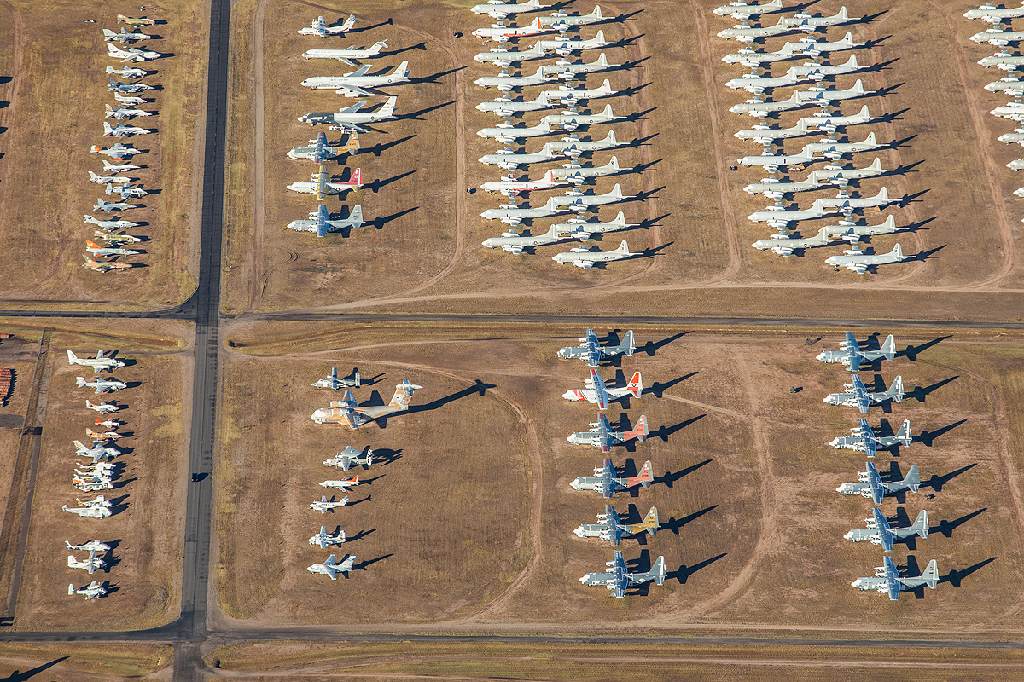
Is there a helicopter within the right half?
No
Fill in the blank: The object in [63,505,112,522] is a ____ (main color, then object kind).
white helicopter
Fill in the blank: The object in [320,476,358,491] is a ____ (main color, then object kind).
white airplane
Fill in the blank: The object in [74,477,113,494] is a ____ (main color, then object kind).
white helicopter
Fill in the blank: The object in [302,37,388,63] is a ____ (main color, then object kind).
white airplane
